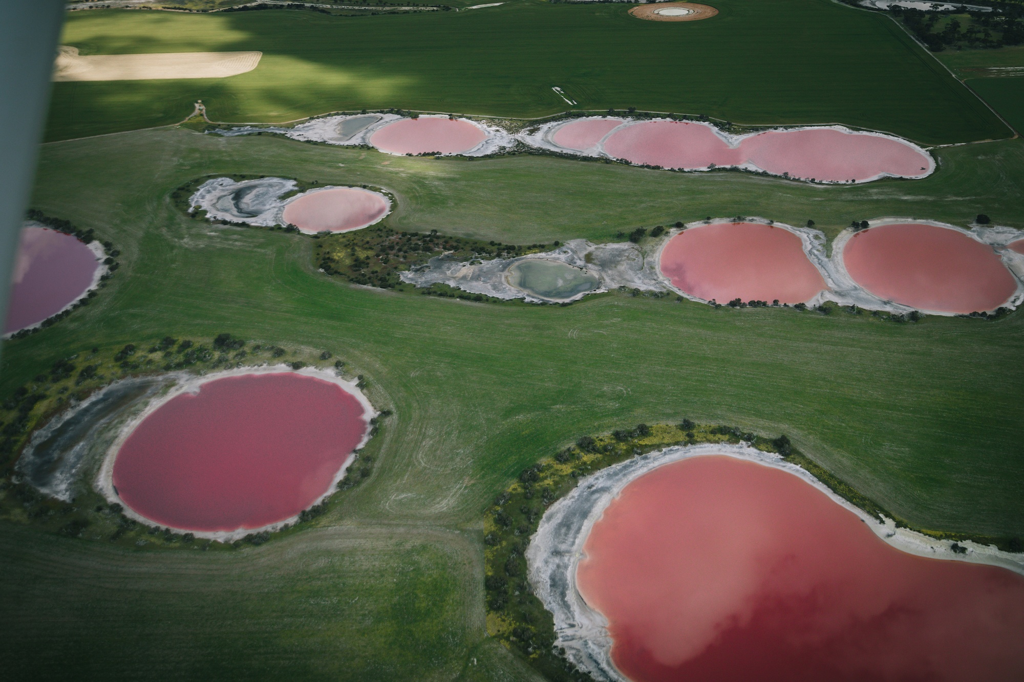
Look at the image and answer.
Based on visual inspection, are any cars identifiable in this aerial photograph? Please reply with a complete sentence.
No, no car is visible in the view.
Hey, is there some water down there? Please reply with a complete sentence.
Yes, there's water in this view.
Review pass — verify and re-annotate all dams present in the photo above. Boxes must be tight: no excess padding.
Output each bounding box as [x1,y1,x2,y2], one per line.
[626,0,719,23]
